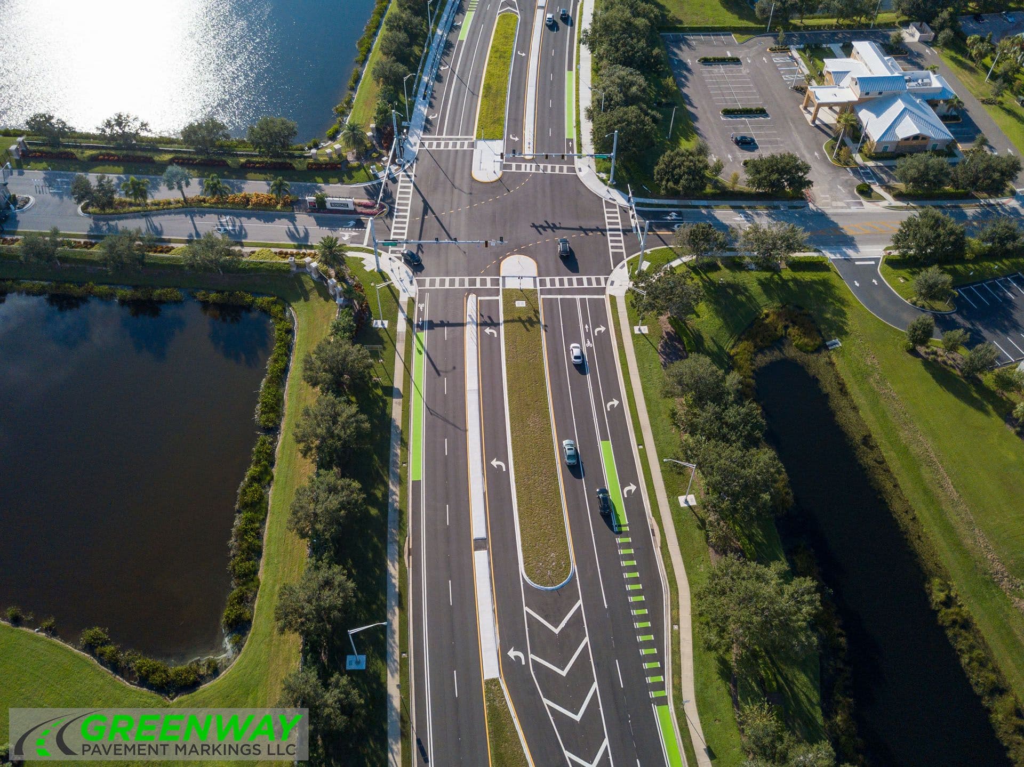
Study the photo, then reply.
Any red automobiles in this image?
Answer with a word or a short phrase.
No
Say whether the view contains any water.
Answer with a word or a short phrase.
Yes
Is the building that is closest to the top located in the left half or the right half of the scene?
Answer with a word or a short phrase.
right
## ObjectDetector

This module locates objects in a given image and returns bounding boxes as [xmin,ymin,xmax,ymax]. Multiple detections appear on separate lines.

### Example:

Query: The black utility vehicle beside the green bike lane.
[596,490,613,520]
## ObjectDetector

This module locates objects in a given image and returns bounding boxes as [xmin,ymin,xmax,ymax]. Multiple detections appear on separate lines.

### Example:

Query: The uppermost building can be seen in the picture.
[797,35,954,153]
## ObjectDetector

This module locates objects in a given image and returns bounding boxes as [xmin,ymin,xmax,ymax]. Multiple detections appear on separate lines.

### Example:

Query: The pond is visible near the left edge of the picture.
[0,287,286,692]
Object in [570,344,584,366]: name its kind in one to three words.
car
